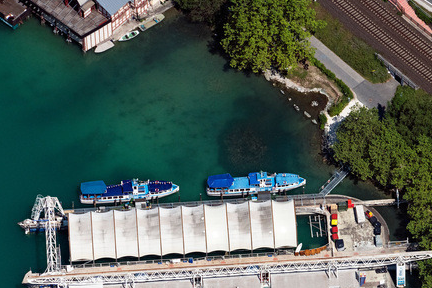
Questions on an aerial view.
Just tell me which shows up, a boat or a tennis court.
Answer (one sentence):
The image shows a boat.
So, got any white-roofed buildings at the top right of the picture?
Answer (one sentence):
No, the scene shows no white-roofed building at the top right of the picture.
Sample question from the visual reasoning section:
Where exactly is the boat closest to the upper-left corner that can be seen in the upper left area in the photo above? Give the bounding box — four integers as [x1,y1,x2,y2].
[95,41,114,53]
